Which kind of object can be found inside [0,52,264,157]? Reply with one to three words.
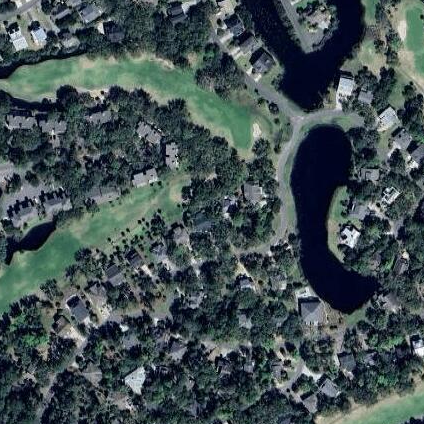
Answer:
golf course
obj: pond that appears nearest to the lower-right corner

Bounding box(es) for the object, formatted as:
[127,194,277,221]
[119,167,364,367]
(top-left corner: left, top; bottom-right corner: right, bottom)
[291,125,379,312]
